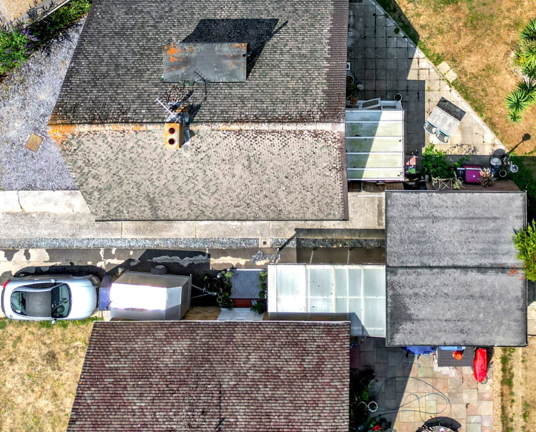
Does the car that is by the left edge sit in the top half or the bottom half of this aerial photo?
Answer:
bottom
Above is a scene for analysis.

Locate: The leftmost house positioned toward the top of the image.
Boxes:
[53,0,349,222]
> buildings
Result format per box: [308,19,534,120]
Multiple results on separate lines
[53,0,349,222]
[67,302,350,432]
[386,179,527,347]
